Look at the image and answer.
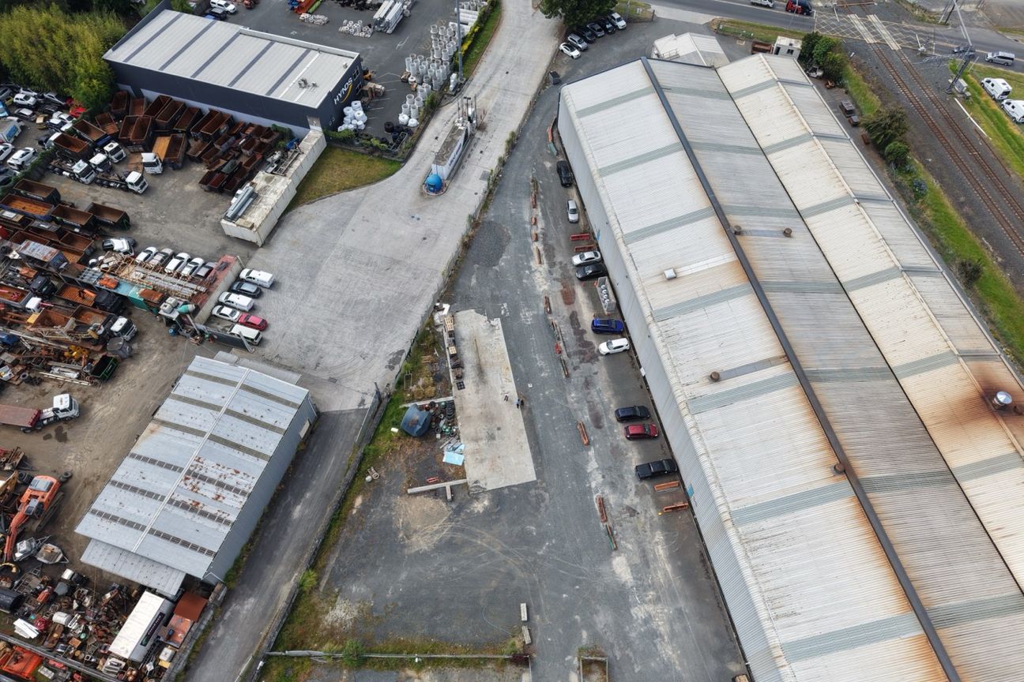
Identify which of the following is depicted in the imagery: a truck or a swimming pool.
truck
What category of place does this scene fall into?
industrial area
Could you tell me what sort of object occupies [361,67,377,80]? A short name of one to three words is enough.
vehicle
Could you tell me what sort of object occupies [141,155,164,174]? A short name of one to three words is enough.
vehicle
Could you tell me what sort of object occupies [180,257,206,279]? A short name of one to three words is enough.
car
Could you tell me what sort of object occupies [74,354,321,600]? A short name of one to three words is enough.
shed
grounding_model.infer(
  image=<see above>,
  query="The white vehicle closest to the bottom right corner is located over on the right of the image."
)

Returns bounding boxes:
[599,337,630,355]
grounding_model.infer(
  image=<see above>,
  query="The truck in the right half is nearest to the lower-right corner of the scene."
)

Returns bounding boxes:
[635,458,677,479]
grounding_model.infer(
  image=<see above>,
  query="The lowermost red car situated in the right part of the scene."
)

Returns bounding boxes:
[625,423,658,440]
